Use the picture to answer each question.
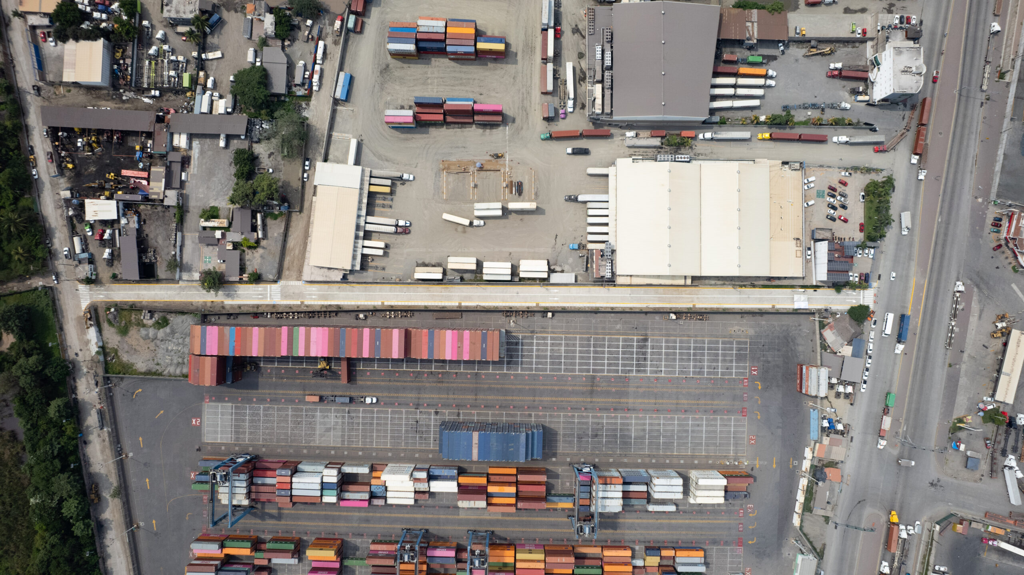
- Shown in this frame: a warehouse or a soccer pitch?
warehouse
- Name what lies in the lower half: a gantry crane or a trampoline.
gantry crane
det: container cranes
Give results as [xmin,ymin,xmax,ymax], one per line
[565,461,601,543]
[465,528,495,575]
[206,452,259,529]
[394,526,429,575]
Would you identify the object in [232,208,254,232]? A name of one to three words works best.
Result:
house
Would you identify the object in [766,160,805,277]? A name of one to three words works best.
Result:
building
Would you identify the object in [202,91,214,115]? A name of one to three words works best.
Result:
vehicle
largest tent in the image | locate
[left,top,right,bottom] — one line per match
[788,291,811,310]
